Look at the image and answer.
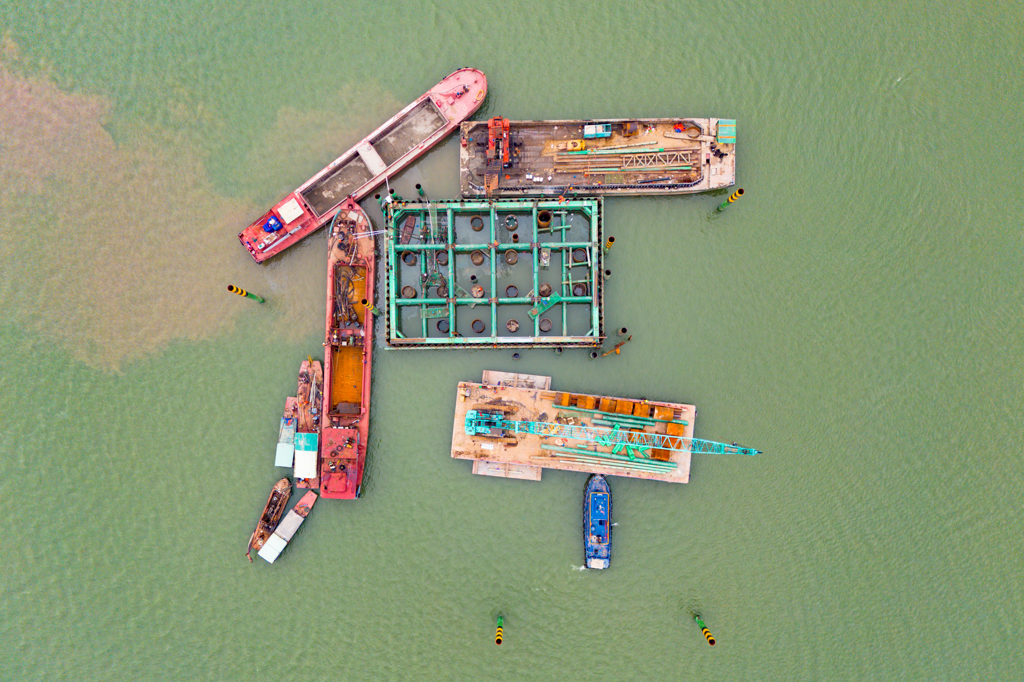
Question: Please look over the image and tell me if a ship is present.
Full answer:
Yes, the picture does show a ship.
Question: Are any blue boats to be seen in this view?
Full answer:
Yes, a blue boat is visible in the scene.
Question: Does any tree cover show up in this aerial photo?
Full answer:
No, no tree cover is visible.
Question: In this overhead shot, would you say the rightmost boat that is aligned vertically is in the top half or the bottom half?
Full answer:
You can find the rightmost boat that is aligned vertically in the bottom half.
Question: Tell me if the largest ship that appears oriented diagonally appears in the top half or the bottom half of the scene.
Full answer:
You can find the largest ship that appears oriented diagonally in the top half.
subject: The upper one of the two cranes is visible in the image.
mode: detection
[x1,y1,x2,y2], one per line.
[476,116,523,205]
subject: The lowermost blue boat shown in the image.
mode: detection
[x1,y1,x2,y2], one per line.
[583,474,613,569]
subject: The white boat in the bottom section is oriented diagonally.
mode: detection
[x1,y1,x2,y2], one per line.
[258,491,318,564]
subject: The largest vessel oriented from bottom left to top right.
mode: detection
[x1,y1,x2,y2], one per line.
[238,65,488,266]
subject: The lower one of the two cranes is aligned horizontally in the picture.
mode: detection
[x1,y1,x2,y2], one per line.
[465,403,763,455]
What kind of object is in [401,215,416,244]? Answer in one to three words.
boat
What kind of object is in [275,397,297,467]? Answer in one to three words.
boat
